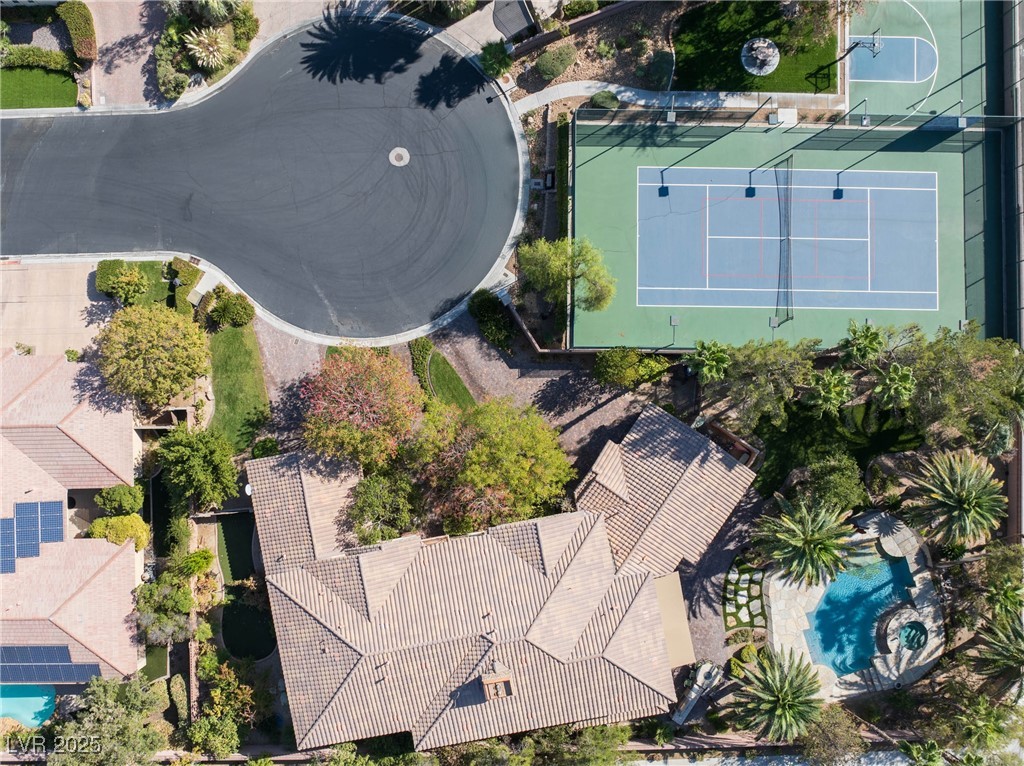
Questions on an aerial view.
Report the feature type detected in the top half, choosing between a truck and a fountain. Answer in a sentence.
Looking in the top half, you will find a fountain.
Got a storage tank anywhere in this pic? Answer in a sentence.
No, I can't see a single storage tank in this photo.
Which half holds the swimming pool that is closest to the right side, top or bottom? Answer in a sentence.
You can find the swimming pool that is closest to the right side in the bottom half.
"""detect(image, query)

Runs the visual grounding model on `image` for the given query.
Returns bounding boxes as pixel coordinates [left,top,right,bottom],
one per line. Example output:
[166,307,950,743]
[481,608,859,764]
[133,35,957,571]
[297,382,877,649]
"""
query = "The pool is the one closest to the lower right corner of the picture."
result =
[766,507,949,701]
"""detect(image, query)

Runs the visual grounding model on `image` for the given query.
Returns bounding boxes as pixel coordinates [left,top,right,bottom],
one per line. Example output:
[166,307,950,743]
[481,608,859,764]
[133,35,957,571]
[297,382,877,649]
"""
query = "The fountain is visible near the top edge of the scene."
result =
[741,37,780,76]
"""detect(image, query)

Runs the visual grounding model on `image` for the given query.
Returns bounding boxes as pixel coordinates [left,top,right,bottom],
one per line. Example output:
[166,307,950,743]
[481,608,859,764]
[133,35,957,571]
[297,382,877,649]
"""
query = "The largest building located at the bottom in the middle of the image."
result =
[246,400,757,753]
